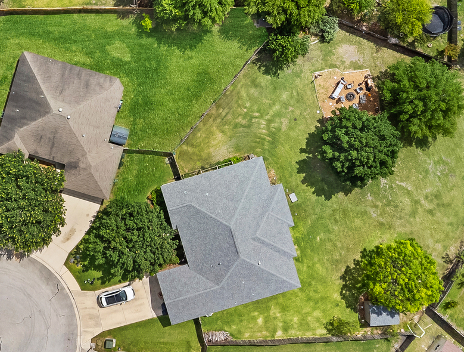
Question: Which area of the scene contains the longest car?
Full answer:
The longest car sits in the bottom left section of the image.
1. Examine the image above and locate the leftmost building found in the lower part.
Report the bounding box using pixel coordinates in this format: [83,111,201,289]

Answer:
[157,156,301,325]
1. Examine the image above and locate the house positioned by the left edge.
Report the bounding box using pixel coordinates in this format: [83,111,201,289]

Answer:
[0,51,124,199]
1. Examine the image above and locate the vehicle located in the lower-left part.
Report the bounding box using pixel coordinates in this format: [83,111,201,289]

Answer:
[97,286,135,310]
